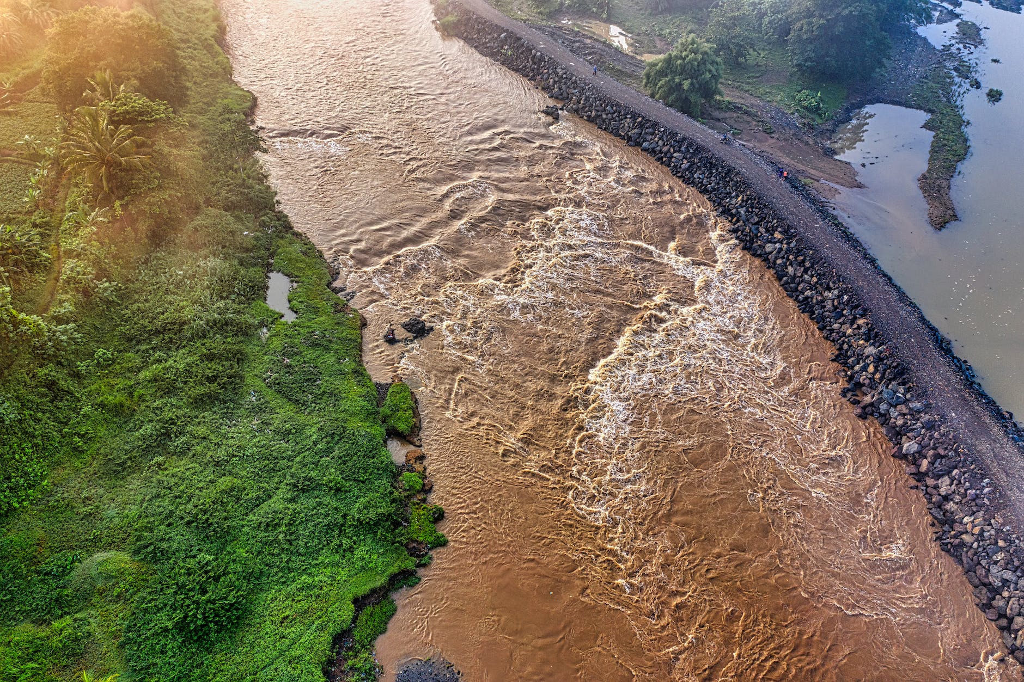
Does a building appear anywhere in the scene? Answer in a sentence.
No, no building is visible in the scene.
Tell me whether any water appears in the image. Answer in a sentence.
Yes, some water is visible.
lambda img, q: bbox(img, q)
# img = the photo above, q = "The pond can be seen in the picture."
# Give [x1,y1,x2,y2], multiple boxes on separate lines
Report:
[745,0,1024,422]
